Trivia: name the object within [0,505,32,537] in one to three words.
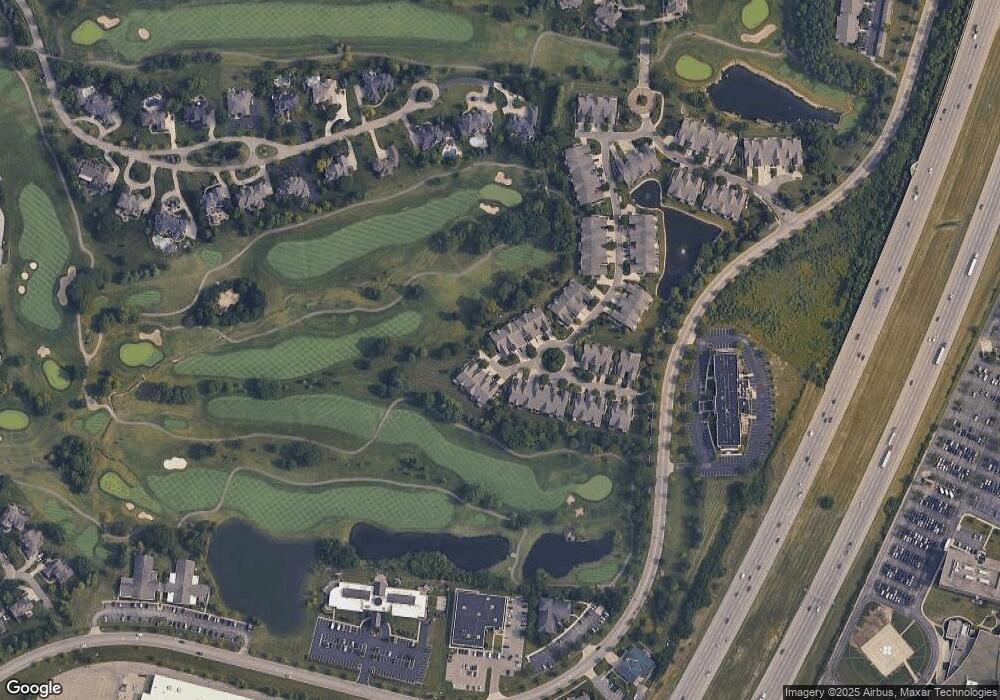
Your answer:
house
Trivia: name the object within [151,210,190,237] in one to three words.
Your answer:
house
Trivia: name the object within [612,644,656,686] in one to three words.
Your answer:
building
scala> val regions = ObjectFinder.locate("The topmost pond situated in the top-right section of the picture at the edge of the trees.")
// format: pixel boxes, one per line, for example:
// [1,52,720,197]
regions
[707,64,843,126]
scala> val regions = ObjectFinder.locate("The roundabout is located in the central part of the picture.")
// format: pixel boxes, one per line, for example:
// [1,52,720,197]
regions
[531,338,575,382]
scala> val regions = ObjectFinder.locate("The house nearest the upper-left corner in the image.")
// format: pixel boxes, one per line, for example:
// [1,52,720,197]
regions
[77,87,115,125]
